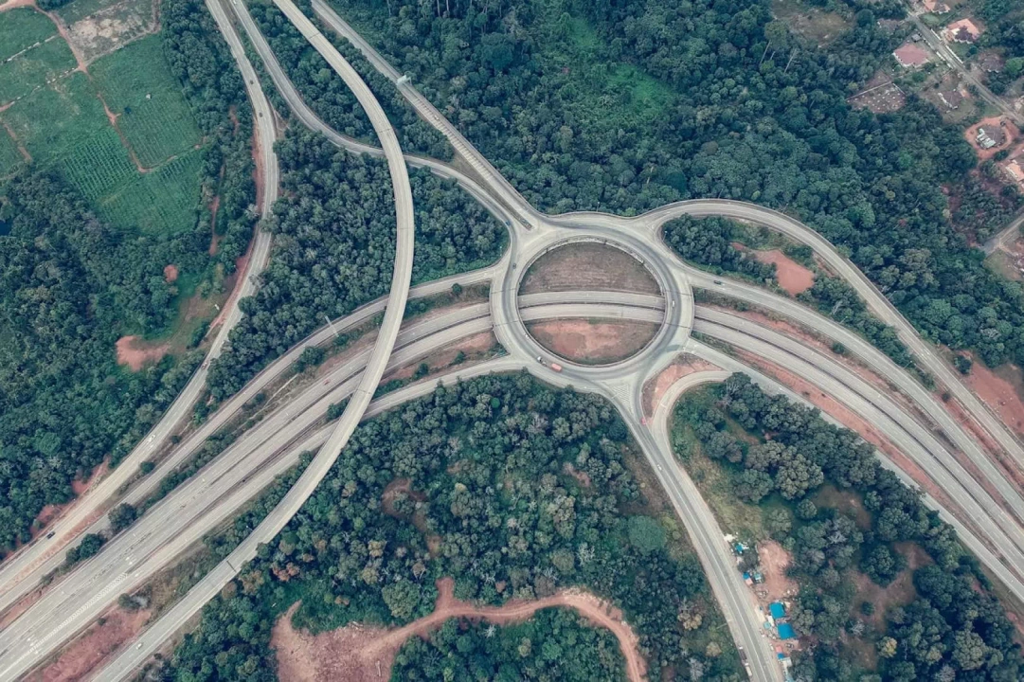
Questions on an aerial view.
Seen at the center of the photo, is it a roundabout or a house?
roundabout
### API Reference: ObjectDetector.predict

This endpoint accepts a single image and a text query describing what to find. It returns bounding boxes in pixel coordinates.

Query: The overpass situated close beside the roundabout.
[90,0,415,682]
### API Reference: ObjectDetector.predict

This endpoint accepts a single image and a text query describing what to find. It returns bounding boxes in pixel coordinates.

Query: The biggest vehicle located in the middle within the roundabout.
[538,355,564,370]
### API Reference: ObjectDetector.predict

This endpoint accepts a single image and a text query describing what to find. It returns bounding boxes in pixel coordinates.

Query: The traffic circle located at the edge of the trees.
[478,187,720,446]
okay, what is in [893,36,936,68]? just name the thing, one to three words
house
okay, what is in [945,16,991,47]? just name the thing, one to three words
house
